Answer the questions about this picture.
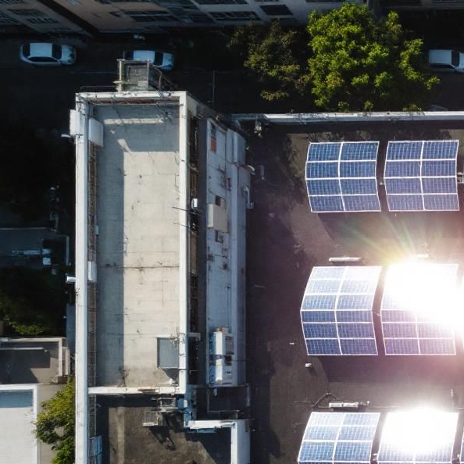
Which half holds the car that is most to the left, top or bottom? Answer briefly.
top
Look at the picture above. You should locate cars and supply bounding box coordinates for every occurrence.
[22,40,79,68]
[424,48,464,75]
[121,45,179,74]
